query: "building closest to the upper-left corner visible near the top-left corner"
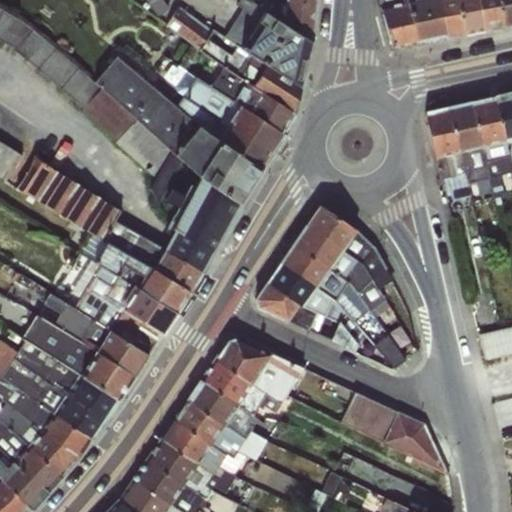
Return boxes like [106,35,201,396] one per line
[0,7,32,47]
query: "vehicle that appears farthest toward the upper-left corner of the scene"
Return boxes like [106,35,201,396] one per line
[54,136,74,160]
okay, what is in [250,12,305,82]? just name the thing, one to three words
building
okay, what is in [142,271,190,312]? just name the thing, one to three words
house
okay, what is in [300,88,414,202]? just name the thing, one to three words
roundabout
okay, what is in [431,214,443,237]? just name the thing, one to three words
vehicle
